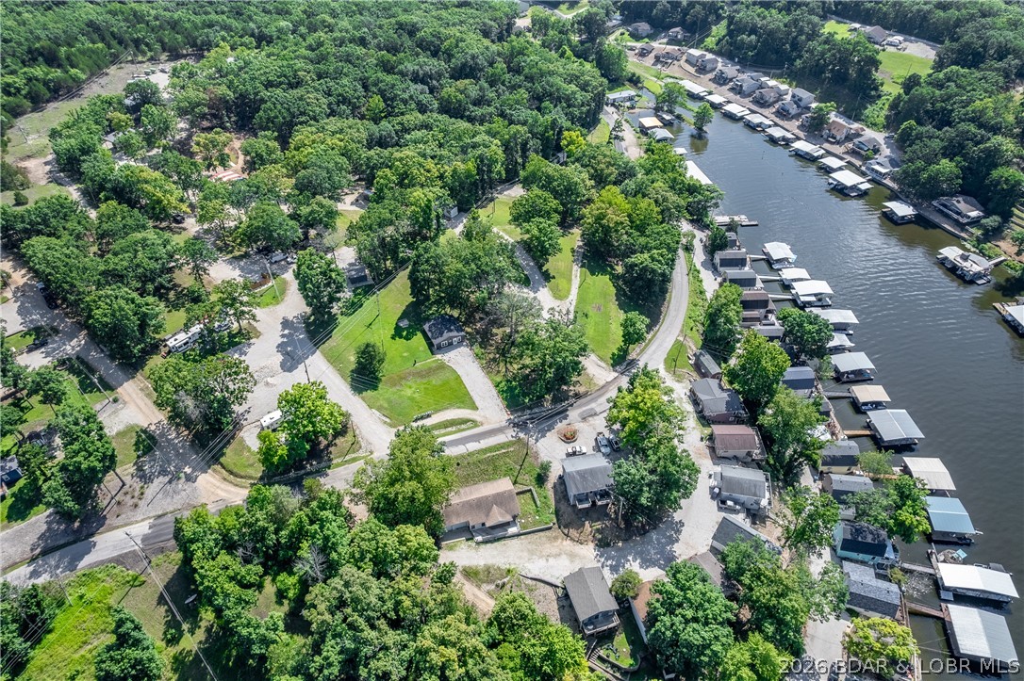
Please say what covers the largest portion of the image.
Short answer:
trees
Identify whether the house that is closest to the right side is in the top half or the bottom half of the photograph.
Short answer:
top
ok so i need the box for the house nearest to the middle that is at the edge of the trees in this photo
[424,316,465,351]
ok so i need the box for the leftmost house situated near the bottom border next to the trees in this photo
[563,566,625,649]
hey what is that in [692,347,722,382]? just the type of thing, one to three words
shed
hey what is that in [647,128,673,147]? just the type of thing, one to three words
pier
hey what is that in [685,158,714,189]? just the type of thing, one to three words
pier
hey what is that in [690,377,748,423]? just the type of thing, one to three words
house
